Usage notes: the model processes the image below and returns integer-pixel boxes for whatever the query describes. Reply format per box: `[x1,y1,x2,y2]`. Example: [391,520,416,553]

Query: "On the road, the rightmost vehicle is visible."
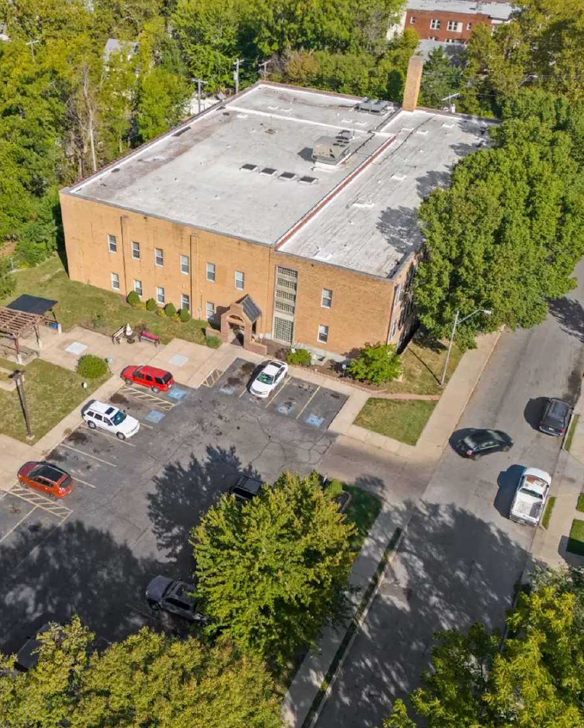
[540,396,577,439]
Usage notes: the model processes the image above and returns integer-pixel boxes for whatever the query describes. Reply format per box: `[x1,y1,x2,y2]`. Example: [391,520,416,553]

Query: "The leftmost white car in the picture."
[81,397,144,440]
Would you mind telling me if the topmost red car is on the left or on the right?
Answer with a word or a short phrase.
left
